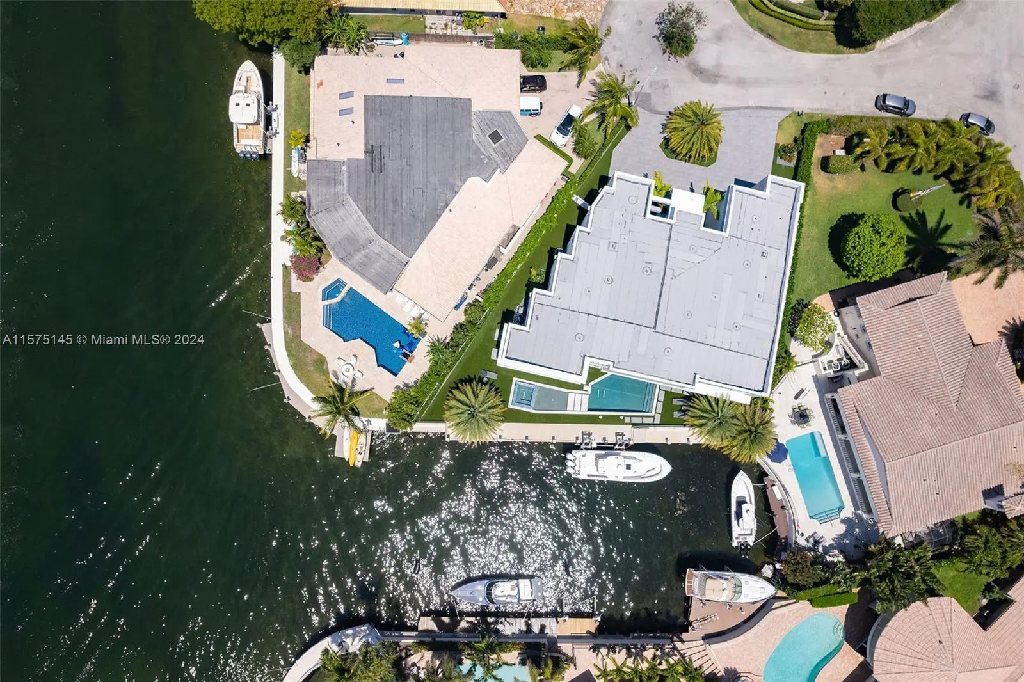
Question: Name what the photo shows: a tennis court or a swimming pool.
swimming pool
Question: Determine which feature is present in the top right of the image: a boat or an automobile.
automobile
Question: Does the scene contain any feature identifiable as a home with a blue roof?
No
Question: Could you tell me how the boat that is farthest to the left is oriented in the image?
from top to bottom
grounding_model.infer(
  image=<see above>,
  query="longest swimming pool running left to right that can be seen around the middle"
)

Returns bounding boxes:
[509,373,660,416]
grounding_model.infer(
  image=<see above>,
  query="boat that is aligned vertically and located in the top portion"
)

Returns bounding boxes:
[227,58,265,160]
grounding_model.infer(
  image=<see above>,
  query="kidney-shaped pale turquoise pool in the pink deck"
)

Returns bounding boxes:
[760,613,845,682]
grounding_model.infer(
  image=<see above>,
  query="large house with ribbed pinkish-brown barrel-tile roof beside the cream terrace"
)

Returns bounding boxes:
[815,271,1024,534]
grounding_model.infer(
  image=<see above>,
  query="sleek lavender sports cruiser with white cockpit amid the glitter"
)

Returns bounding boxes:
[449,579,543,607]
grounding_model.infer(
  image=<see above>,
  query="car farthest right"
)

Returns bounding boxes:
[960,108,1002,135]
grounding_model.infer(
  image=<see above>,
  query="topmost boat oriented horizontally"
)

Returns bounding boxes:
[565,450,673,483]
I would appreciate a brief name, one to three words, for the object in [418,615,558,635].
pier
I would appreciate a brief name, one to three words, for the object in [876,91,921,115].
car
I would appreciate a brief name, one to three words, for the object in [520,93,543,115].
car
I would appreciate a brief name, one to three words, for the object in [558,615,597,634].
pier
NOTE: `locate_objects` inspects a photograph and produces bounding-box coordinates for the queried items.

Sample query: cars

[876,91,921,115]
[520,72,547,92]
[520,93,543,115]
[960,108,1002,135]
[551,100,584,148]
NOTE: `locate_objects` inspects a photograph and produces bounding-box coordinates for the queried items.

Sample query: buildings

[865,572,1024,682]
[307,42,569,322]
[336,0,507,20]
[815,271,1024,534]
[497,172,804,405]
